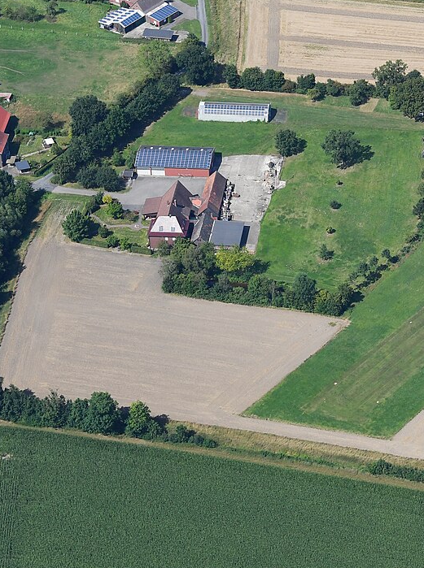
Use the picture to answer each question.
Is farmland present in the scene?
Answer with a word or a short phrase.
Yes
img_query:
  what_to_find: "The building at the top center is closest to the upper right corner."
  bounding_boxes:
[197,102,270,122]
